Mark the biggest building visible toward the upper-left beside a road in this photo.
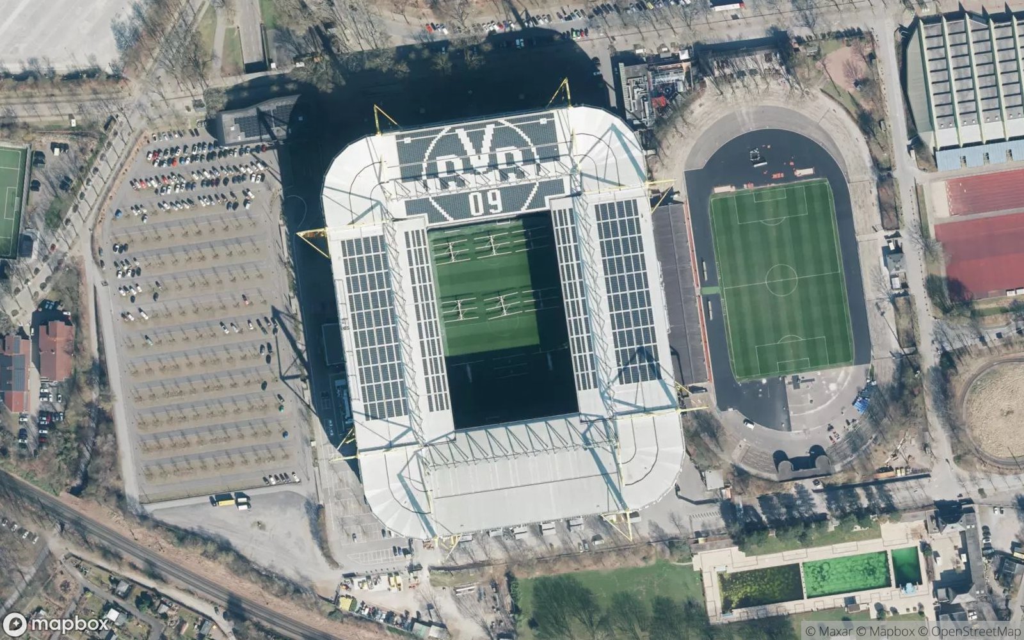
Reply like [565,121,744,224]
[221,95,304,150]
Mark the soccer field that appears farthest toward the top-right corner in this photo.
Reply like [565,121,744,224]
[708,179,856,383]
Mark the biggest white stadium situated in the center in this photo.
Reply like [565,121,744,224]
[297,78,709,566]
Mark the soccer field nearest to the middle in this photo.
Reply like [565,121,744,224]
[428,210,578,430]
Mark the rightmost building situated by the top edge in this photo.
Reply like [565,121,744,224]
[907,11,1024,152]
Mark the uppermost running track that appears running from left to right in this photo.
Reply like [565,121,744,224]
[946,169,1024,216]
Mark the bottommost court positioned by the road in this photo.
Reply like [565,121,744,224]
[935,212,1024,299]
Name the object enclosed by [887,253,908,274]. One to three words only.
building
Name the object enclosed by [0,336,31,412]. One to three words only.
house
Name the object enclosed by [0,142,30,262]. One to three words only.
soccer field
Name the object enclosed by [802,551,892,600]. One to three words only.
swimming pool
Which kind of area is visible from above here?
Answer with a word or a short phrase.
sports ground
